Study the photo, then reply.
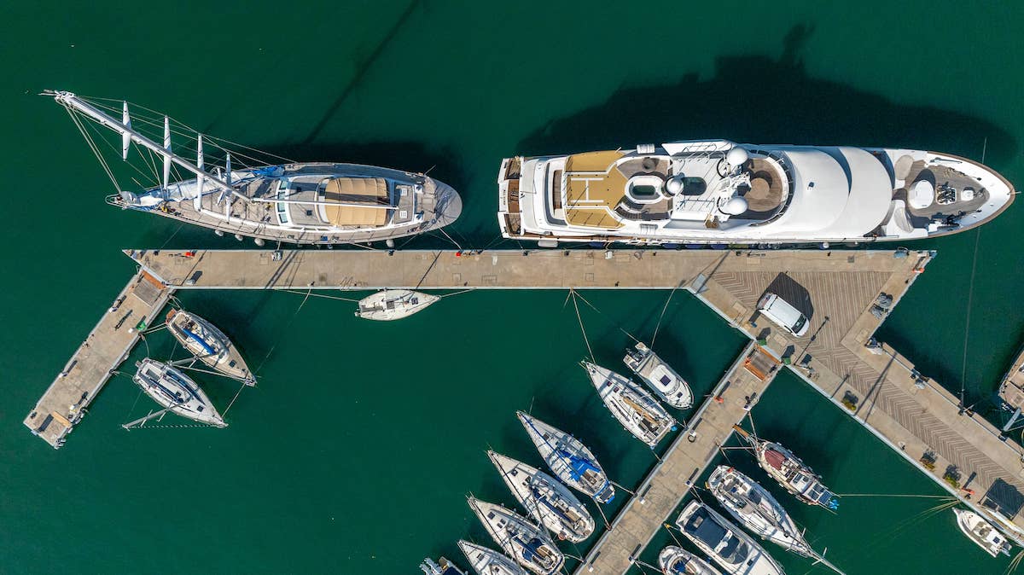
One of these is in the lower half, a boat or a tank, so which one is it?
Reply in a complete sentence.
Looking in the lower half, you will find a boat.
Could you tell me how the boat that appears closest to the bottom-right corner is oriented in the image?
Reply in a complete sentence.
Seen from above, the boat that appears closest to the bottom-right corner lies at an angle.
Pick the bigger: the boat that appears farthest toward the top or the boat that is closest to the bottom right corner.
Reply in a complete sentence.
The boat that appears farthest toward the top takes up more space than the boat that is closest to the bottom right corner does.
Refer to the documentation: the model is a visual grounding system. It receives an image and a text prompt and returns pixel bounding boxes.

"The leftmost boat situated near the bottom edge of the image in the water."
[424,550,471,575]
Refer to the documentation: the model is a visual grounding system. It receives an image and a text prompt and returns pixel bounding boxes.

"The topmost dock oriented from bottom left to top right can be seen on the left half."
[23,271,177,448]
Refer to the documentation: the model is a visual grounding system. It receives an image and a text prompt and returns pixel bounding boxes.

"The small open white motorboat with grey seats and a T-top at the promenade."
[950,508,1012,559]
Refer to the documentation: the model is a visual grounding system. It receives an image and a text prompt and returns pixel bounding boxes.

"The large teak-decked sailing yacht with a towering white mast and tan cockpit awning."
[27,84,484,253]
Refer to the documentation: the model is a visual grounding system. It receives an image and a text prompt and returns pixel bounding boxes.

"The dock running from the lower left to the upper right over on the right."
[566,339,784,575]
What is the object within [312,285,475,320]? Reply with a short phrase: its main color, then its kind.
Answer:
white boat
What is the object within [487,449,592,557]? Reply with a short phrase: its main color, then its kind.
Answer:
white boat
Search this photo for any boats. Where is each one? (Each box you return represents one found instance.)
[456,539,534,575]
[635,546,717,575]
[666,484,782,575]
[466,127,1020,407]
[467,497,584,575]
[114,334,230,428]
[950,508,1012,559]
[619,289,696,409]
[515,396,635,526]
[487,449,592,557]
[312,285,475,320]
[572,290,685,461]
[720,417,956,521]
[424,550,471,575]
[27,84,484,253]
[694,466,863,575]
[142,298,280,418]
